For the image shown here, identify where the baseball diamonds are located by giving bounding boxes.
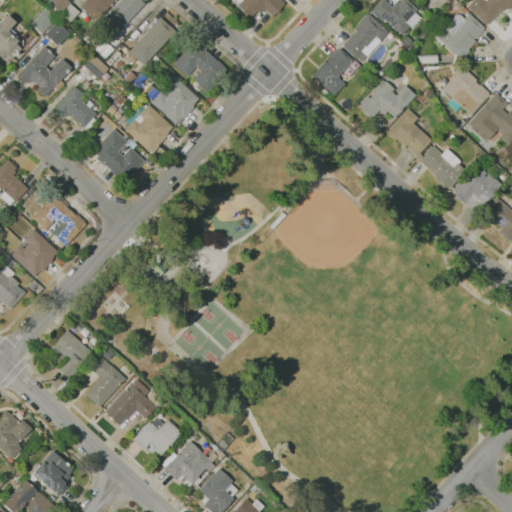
[278,178,377,269]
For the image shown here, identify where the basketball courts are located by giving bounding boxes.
[196,302,246,350]
[174,323,224,372]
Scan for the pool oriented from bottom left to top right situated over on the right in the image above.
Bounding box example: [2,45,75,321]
[366,42,390,64]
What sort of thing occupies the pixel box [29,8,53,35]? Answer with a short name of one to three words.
building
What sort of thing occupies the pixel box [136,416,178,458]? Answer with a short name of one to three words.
house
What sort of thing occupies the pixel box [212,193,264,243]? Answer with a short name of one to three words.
playground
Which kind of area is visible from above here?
residential area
